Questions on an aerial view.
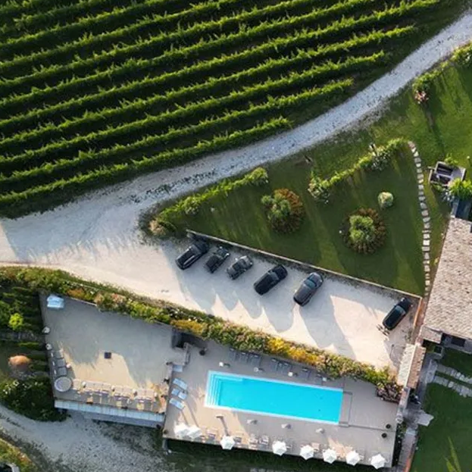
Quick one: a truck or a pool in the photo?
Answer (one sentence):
Visible in the photo is a pool.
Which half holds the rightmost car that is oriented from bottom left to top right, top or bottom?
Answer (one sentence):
The rightmost car that is oriented from bottom left to top right sits in the bottom half of the picture.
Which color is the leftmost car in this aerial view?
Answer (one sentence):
The leftmost car looks black in the image.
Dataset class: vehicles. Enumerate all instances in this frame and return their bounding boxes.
[200,245,234,274]
[378,295,414,332]
[174,240,213,273]
[251,263,291,297]
[223,254,257,282]
[291,271,326,307]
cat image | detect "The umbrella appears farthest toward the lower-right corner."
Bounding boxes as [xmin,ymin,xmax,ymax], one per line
[371,454,387,468]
